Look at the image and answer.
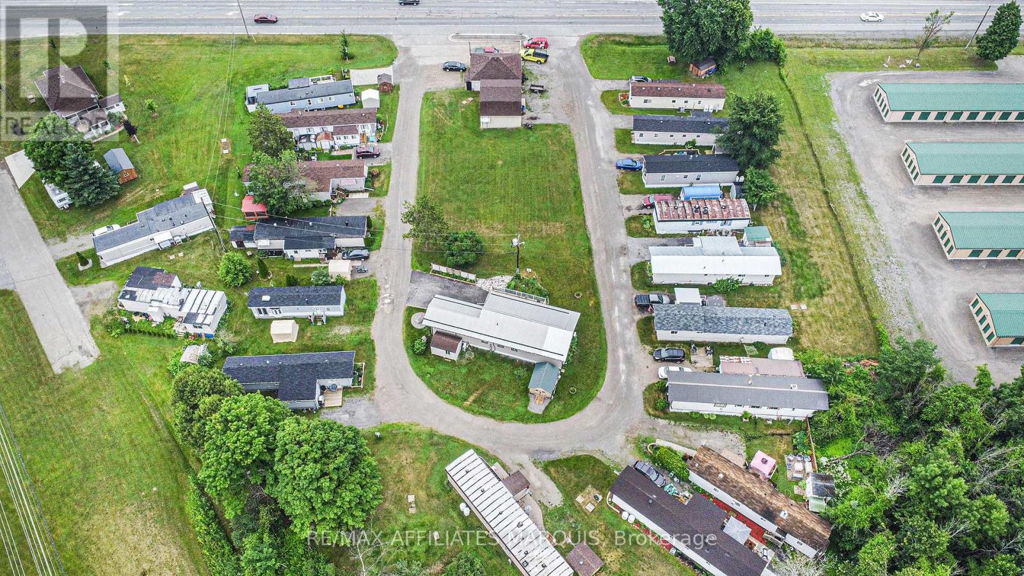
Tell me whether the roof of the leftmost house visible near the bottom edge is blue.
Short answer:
No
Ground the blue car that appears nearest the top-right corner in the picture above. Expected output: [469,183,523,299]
[616,159,643,172]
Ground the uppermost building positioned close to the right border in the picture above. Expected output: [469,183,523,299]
[873,81,1024,122]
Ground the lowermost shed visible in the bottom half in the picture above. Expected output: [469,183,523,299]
[568,533,616,576]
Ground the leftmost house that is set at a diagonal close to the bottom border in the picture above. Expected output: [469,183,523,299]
[445,449,573,576]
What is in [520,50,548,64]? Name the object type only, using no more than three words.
vehicle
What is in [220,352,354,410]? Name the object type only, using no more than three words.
house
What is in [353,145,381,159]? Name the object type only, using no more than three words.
car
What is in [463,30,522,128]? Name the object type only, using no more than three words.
building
